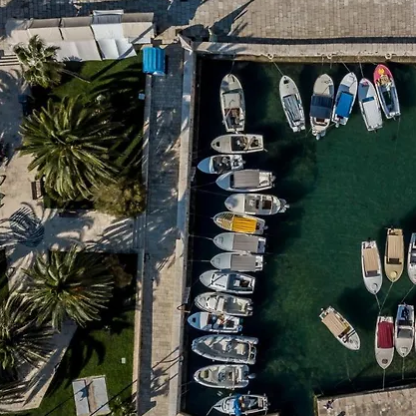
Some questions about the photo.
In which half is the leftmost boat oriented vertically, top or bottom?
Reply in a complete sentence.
The leftmost boat oriented vertically is in the top half of the image.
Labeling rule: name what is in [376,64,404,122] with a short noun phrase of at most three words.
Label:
boat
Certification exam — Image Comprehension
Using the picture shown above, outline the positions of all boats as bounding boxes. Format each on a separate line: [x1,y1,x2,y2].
[213,232,267,253]
[192,333,261,365]
[384,225,404,282]
[214,391,271,416]
[361,237,382,295]
[332,72,359,128]
[212,212,271,236]
[199,269,257,294]
[216,170,278,194]
[197,154,249,175]
[395,301,415,358]
[193,363,260,390]
[195,292,259,317]
[320,306,359,350]
[308,73,335,143]
[375,312,395,370]
[376,64,404,122]
[408,232,416,284]
[224,193,291,216]
[210,252,268,273]
[220,74,247,135]
[187,310,245,334]
[279,75,309,136]
[358,77,384,135]
[211,133,265,154]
